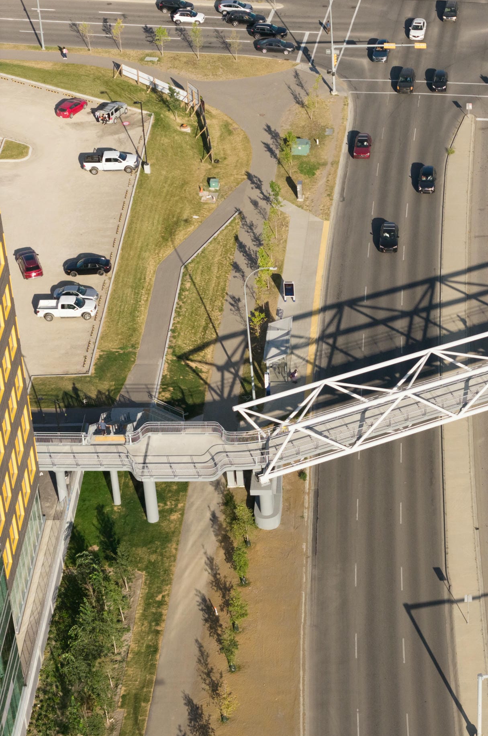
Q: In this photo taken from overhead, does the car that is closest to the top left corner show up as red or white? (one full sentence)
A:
From above, the car that is closest to the top left corner appears red.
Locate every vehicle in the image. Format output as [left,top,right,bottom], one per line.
[227,10,266,26]
[378,222,399,251]
[256,39,295,55]
[417,166,436,193]
[51,283,101,299]
[17,250,42,278]
[84,151,137,174]
[250,21,288,40]
[170,7,208,24]
[64,257,111,277]
[396,64,416,93]
[156,0,193,13]
[54,99,88,120]
[409,20,426,40]
[353,134,372,158]
[371,39,389,62]
[36,295,96,320]
[217,0,254,15]
[93,99,130,123]
[442,0,459,21]
[431,70,448,92]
